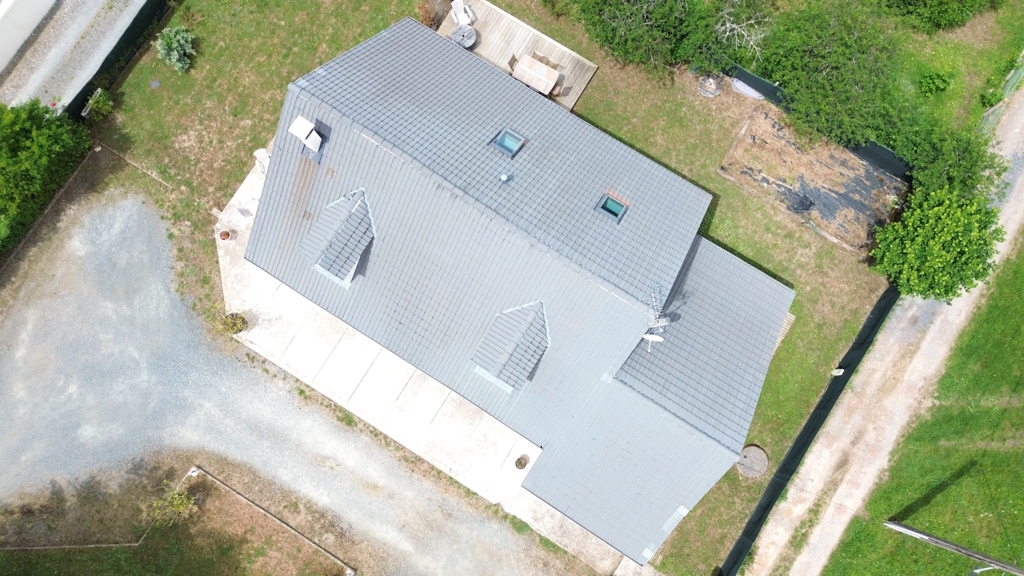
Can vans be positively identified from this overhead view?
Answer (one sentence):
No, no van is visible in the scene.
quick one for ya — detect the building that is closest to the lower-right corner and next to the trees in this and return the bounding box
[243,16,796,567]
